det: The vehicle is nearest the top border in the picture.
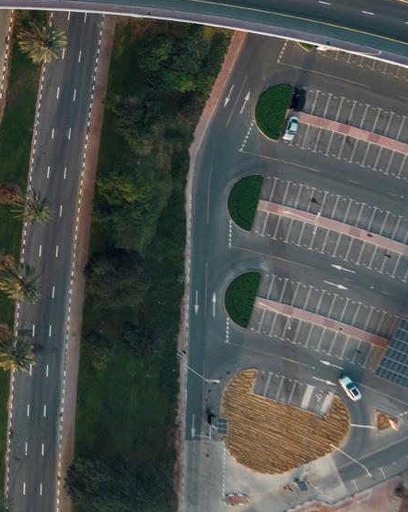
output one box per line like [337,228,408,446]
[293,88,308,111]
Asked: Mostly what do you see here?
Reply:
paved ground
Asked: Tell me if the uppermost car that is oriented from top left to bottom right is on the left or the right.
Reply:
right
